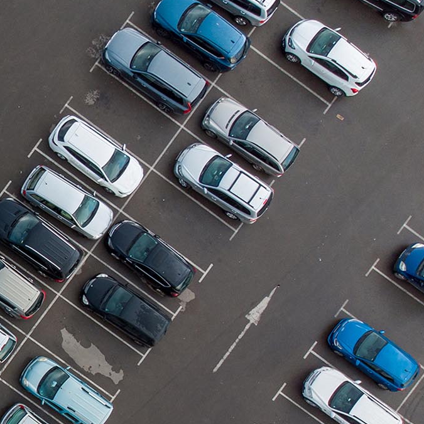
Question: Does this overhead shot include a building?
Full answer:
No, I find no building anywhere in the image.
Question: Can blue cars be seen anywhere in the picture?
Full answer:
Yes, there is a blue car in the image.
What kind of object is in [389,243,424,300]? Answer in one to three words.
car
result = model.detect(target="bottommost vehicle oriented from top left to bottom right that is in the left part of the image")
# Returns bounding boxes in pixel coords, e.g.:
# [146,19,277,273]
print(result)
[18,355,119,424]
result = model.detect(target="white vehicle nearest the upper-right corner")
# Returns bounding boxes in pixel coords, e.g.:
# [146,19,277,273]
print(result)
[278,14,383,99]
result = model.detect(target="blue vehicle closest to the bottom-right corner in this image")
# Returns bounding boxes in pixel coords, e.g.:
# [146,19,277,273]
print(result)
[324,316,424,393]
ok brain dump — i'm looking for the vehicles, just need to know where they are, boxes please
[148,0,253,75]
[213,0,283,28]
[18,355,119,424]
[79,272,175,351]
[0,254,47,323]
[99,29,208,118]
[0,197,85,283]
[198,97,304,181]
[389,243,424,300]
[324,316,424,393]
[278,14,383,99]
[171,143,278,226]
[18,159,113,243]
[373,0,424,20]
[45,112,143,199]
[0,399,53,424]
[102,217,201,300]
[299,364,412,424]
